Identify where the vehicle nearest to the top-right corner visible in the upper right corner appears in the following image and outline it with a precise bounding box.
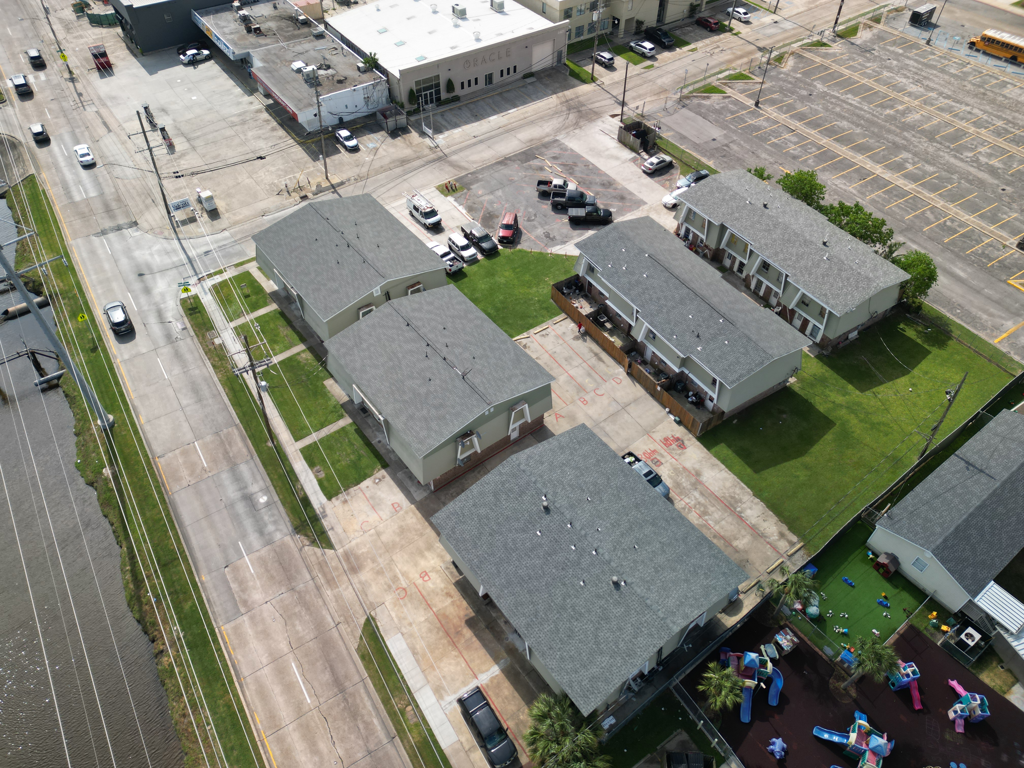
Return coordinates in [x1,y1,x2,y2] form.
[969,33,1024,69]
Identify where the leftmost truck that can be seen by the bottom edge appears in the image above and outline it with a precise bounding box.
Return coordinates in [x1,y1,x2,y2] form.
[454,679,514,768]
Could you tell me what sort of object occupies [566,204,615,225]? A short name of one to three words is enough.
truck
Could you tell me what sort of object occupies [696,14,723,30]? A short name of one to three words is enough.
car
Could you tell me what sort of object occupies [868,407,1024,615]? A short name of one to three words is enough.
house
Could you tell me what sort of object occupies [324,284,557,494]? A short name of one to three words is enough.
house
